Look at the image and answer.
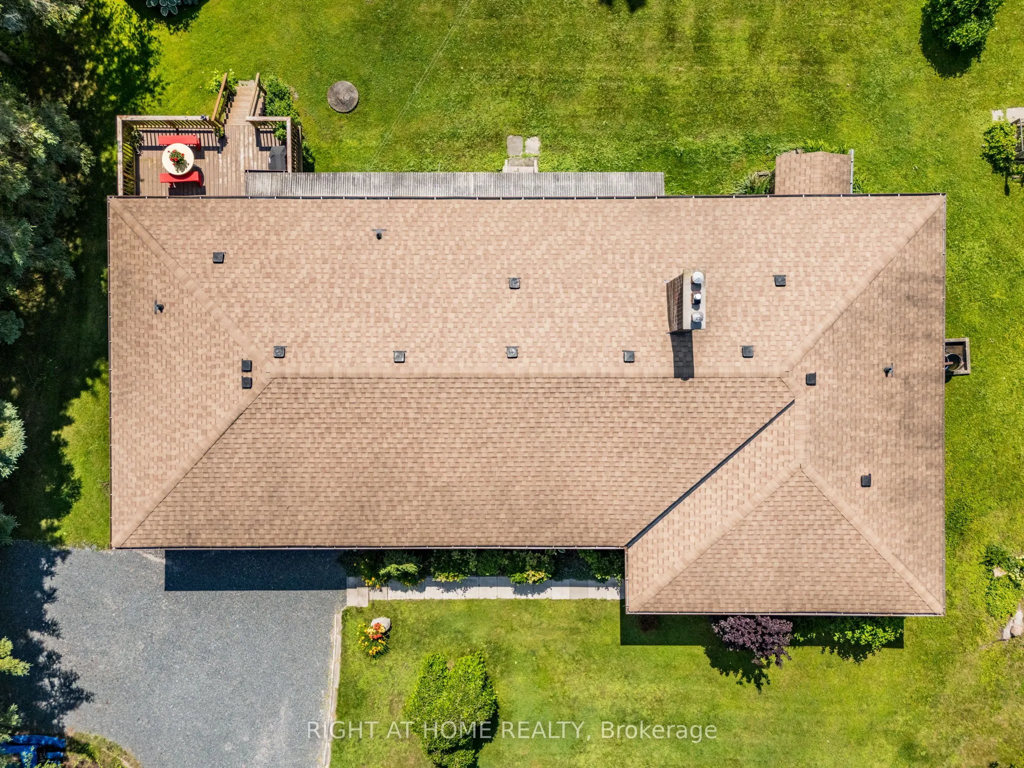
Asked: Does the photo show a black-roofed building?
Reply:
No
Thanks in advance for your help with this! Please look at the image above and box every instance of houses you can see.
[108,152,954,615]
